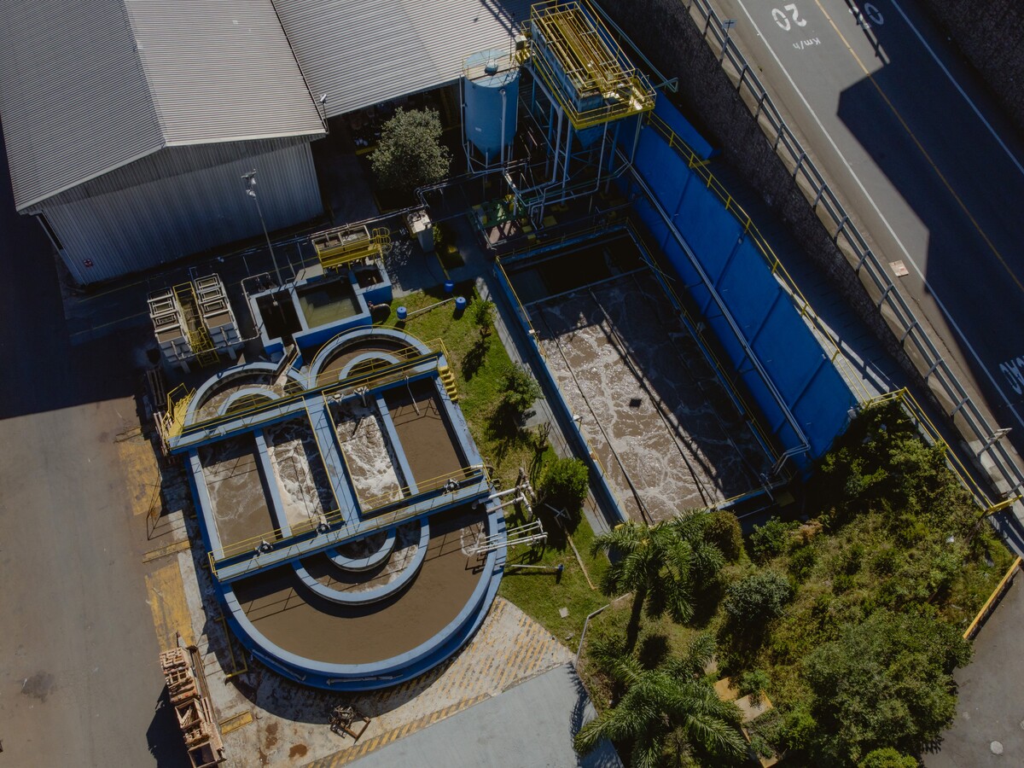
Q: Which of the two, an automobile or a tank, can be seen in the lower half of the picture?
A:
tank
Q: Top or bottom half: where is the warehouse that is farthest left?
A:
top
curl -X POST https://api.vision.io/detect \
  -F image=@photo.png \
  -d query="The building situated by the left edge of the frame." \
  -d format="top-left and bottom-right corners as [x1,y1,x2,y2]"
[0,0,334,286]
